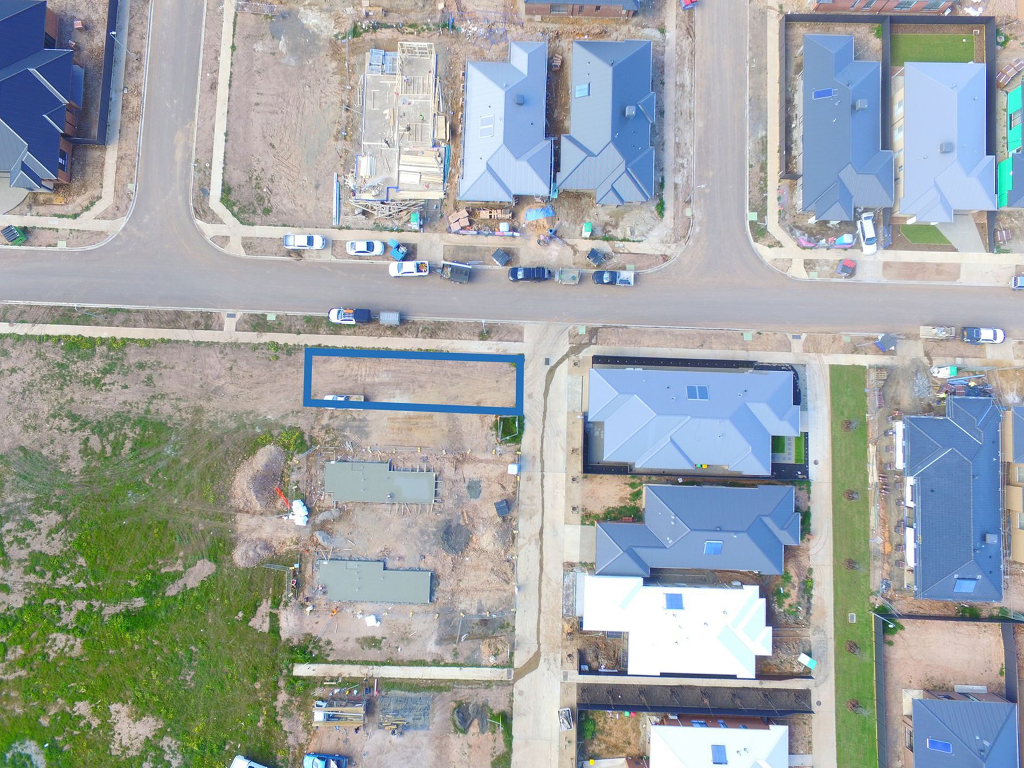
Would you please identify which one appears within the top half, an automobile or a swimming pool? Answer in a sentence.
The one visible within the top half is an automobile.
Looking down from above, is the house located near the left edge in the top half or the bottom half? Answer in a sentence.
Seen from above, the house located near the left edge lies in the top half of the view.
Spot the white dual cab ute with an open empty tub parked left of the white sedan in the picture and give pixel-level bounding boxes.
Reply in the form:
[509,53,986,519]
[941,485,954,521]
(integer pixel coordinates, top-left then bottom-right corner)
[280,231,323,249]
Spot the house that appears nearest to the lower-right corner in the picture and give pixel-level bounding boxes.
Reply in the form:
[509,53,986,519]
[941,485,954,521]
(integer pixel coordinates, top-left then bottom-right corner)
[903,685,1020,768]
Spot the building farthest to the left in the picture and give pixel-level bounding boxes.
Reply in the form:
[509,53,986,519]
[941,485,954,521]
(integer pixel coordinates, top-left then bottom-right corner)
[0,0,85,191]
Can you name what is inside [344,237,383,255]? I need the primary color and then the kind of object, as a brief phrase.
white car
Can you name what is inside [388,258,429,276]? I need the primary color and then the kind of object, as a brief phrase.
white vehicle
